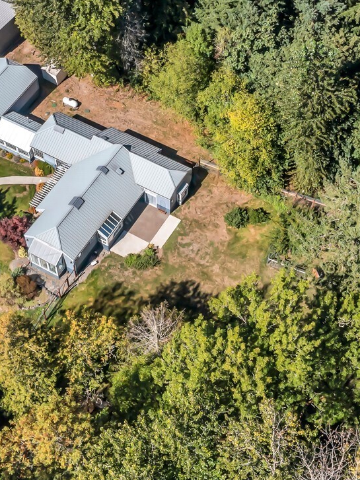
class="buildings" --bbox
[0,0,28,55]
[0,57,38,115]
[24,112,193,277]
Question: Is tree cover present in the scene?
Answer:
Yes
